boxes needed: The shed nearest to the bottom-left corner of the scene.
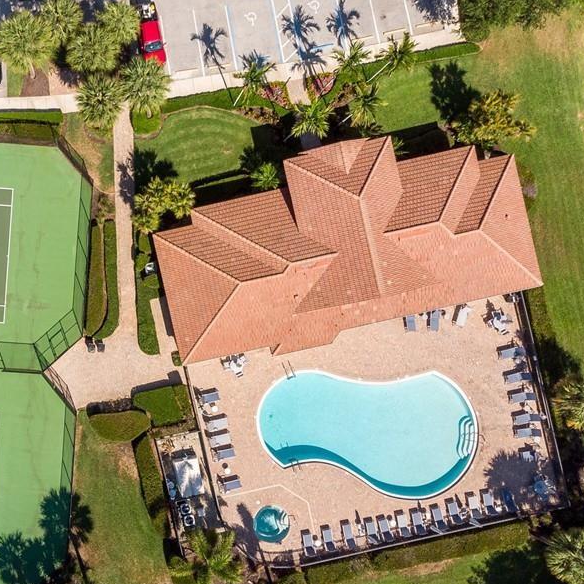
[168,449,205,496]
